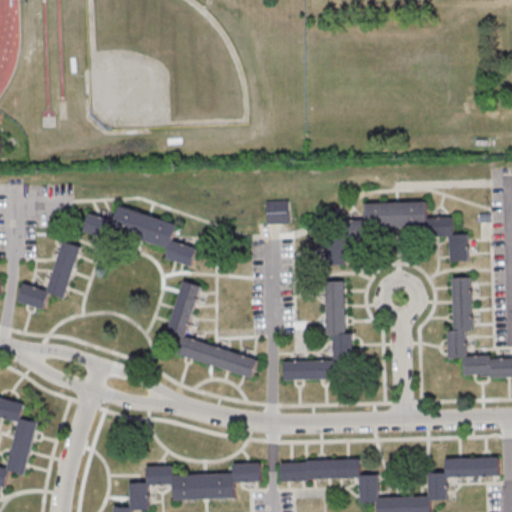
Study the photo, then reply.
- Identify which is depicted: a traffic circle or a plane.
traffic circle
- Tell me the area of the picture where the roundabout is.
right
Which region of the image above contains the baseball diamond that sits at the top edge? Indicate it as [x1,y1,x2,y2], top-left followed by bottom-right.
[90,0,248,128]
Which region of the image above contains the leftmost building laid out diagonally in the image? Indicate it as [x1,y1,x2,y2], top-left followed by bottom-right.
[18,242,80,309]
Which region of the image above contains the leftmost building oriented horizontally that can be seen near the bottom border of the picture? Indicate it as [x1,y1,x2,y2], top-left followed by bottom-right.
[114,461,261,512]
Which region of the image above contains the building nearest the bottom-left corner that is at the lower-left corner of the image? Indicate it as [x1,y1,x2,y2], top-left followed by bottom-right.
[0,394,38,486]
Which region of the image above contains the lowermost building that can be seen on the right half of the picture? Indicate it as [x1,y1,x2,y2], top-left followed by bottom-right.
[280,456,500,512]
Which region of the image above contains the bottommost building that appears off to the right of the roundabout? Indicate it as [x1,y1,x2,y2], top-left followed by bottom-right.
[448,277,512,378]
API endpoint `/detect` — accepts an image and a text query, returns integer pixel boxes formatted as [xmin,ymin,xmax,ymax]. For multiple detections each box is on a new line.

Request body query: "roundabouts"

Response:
[374,269,428,334]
